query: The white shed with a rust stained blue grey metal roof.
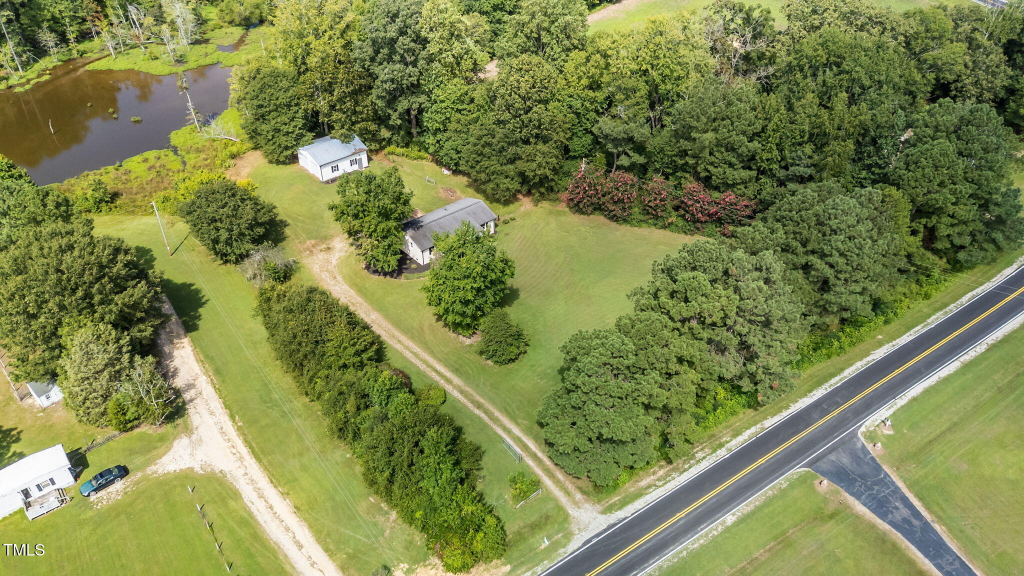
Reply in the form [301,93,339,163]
[302,134,369,181]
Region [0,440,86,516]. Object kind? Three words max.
house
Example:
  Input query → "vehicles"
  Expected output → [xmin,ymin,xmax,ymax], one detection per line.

[79,465,126,497]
